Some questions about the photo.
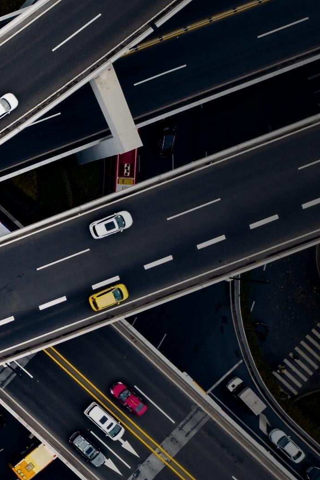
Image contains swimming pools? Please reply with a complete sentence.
No, this view has no swimming pool in it.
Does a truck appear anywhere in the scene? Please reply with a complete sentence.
Yes, the photo shows a truck.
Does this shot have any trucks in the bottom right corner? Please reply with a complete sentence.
Yes, a truck appears in the bottom right corner.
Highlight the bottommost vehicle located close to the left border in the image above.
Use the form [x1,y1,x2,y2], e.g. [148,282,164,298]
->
[7,438,57,480]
